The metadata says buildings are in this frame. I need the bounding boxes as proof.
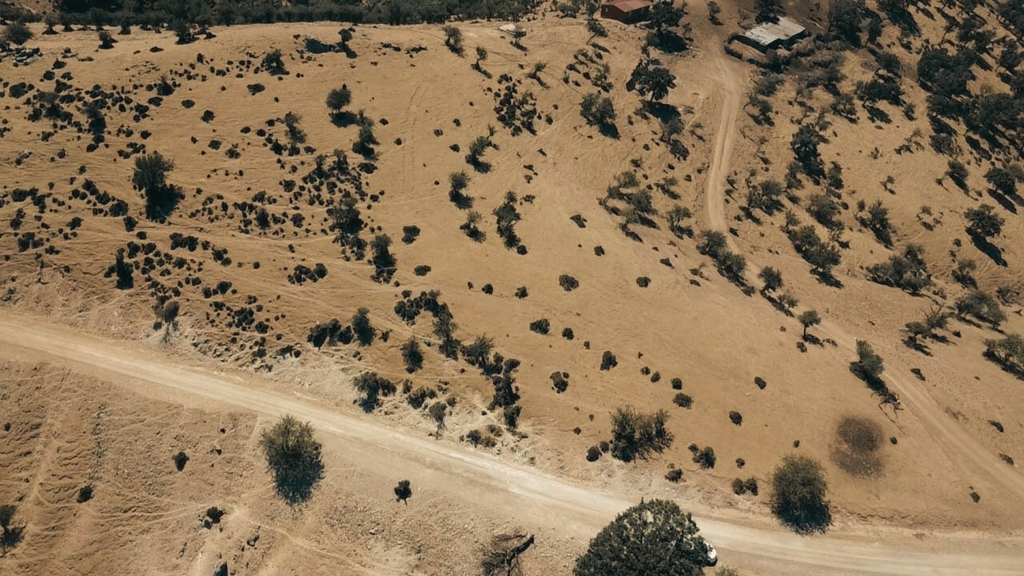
[747,18,804,51]
[599,0,651,24]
